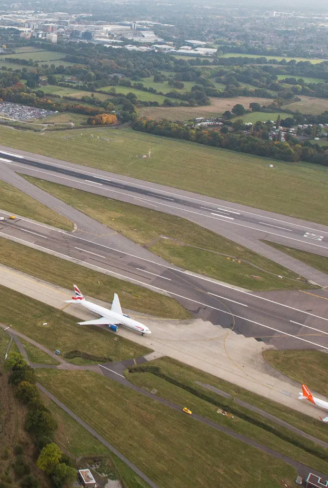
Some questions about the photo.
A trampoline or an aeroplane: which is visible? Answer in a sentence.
The image shows an aeroplane.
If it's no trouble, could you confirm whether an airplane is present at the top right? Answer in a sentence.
No, I can find no airplane at the top right.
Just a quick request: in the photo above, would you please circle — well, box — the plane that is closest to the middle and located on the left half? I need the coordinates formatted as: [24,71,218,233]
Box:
[60,280,144,328]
